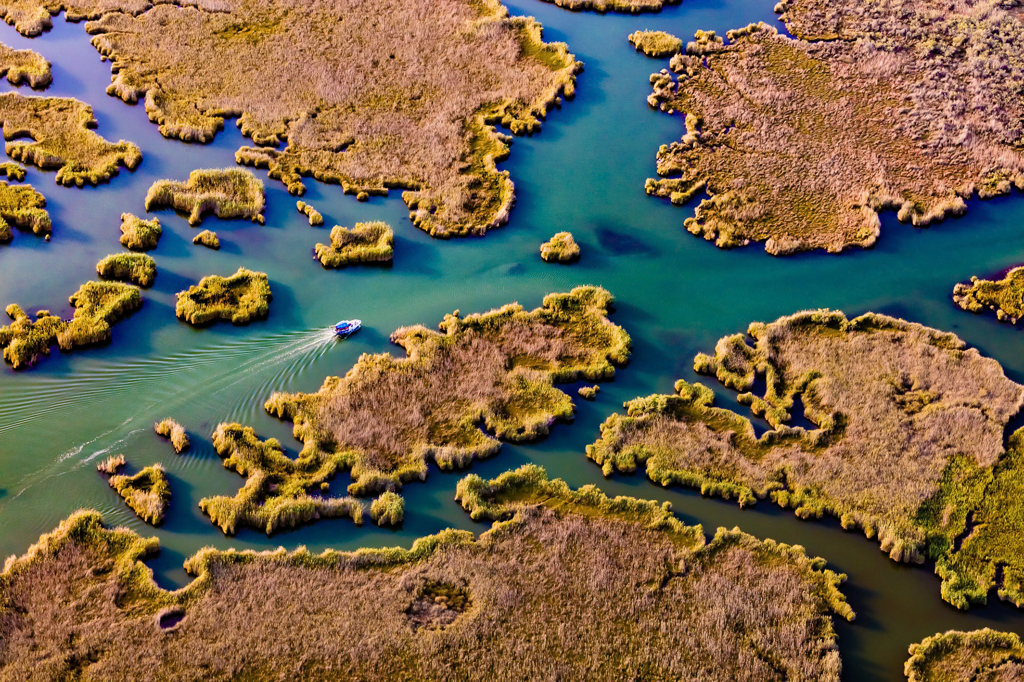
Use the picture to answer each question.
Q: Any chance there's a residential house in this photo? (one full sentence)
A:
No, no residential house is visible in the view.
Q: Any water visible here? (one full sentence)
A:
Yes, the picture does contain water.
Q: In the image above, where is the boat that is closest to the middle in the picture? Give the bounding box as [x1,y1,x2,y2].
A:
[329,320,360,340]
